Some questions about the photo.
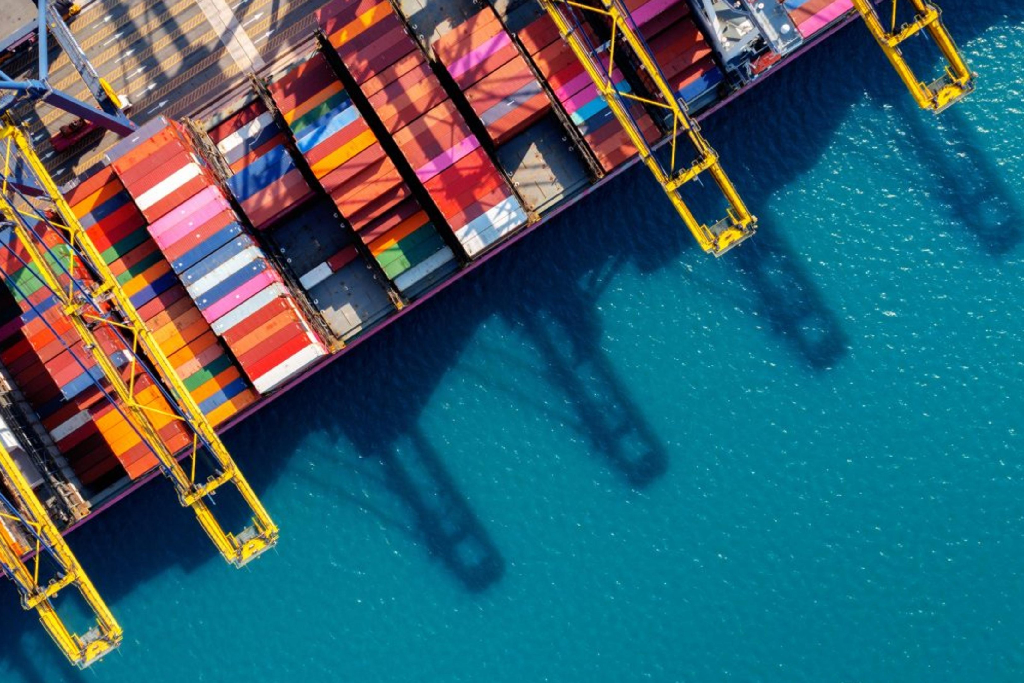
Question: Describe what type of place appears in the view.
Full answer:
This image shows a port.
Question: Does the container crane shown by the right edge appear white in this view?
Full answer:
No, from above the container crane shown by the right edge looks yellow.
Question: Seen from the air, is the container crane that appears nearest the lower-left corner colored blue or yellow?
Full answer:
The color of the container crane that appears nearest the lower-left corner is yellow.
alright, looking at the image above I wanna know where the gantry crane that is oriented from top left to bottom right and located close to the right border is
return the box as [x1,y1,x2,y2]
[850,0,974,122]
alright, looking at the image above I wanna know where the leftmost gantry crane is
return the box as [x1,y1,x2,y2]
[0,448,125,672]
